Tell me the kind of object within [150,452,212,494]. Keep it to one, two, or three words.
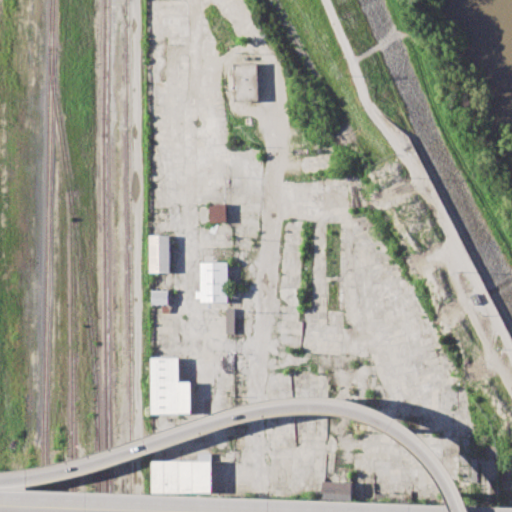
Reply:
building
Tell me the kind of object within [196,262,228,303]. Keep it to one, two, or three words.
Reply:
building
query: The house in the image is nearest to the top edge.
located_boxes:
[234,64,257,102]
